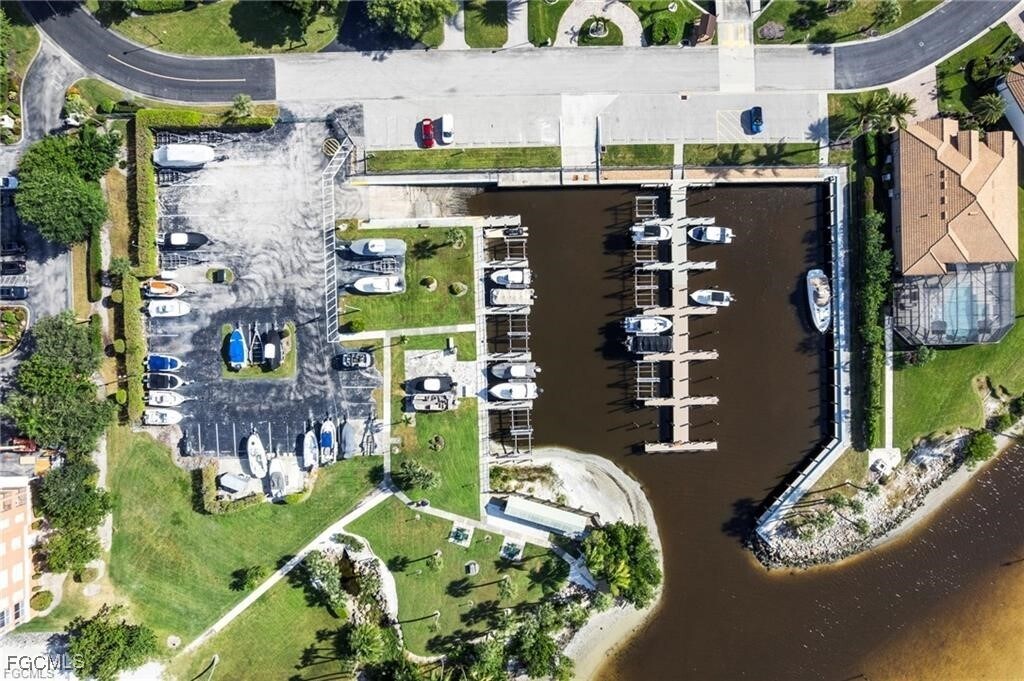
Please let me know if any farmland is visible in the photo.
No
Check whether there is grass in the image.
Yes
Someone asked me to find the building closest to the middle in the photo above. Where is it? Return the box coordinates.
[504,496,587,533]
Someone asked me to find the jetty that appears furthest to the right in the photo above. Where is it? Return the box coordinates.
[756,187,841,533]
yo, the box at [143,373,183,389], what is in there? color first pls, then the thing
black boat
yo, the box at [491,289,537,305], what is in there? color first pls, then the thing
white boat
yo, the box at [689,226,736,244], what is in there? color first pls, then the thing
white boat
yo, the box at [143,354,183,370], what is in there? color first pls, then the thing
blue boat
